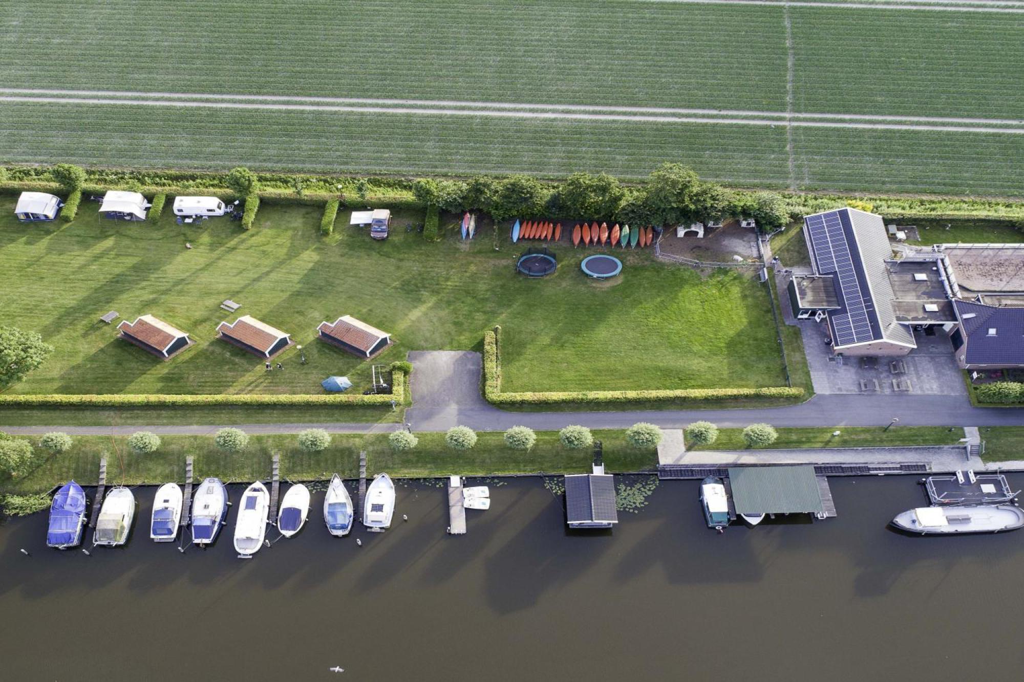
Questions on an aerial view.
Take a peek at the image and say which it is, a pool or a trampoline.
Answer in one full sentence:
It is a trampoline that can be seen here.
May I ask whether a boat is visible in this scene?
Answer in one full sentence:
Yes, a boat can be made out from above.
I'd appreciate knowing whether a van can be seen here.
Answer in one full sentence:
Yes, a van appears in the view.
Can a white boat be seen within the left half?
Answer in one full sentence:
Yes, the scene does show a white boat within the left half.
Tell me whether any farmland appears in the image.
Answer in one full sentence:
Yes, farmland can be seen from above here.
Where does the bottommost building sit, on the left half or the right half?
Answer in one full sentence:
It is on the right.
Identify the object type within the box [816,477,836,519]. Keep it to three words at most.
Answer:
pier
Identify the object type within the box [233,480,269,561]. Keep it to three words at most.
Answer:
boat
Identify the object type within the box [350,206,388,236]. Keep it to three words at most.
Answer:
van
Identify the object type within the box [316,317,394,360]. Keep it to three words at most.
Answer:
shed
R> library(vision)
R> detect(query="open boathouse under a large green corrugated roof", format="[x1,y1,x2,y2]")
[726,466,824,515]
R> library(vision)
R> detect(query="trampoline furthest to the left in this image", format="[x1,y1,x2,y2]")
[518,248,556,278]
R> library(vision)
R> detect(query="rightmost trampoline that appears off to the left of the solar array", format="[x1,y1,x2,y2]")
[581,255,622,280]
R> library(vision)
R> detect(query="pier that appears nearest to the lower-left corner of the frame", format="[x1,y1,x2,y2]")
[89,458,109,527]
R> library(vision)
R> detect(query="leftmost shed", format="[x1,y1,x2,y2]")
[116,318,195,360]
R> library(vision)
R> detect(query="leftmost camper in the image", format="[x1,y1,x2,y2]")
[2,189,66,222]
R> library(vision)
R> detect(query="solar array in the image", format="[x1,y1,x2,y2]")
[809,212,867,343]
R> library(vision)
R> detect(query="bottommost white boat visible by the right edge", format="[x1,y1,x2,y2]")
[891,505,1024,533]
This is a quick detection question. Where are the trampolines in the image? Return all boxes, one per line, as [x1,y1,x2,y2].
[518,248,556,278]
[581,255,622,280]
